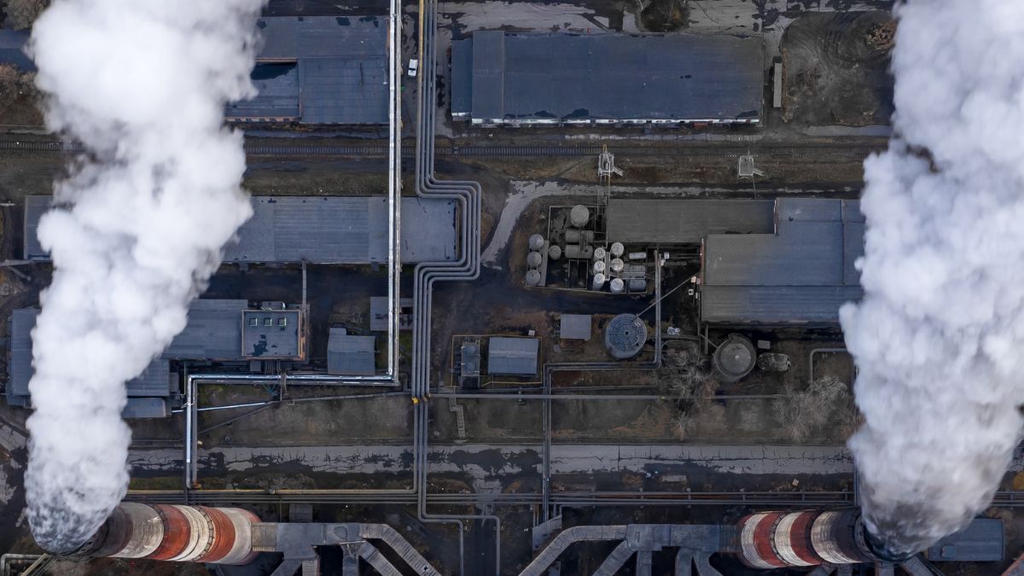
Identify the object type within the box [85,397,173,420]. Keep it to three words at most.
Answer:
building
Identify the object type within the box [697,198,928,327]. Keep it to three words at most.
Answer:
building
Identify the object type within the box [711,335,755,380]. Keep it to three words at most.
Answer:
storage tank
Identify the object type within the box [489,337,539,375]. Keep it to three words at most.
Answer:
shed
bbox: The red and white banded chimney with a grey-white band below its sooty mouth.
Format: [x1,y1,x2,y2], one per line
[51,497,257,565]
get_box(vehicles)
[770,58,781,111]
[408,58,418,77]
